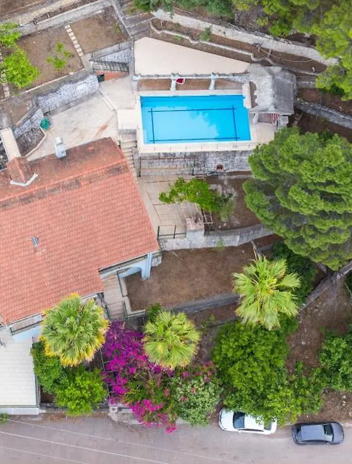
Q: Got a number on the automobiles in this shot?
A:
2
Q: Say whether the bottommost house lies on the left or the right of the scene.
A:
left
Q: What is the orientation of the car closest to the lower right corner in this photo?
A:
from left to right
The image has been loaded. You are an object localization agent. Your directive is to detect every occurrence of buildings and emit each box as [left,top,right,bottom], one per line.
[0,136,157,348]
[250,67,300,133]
